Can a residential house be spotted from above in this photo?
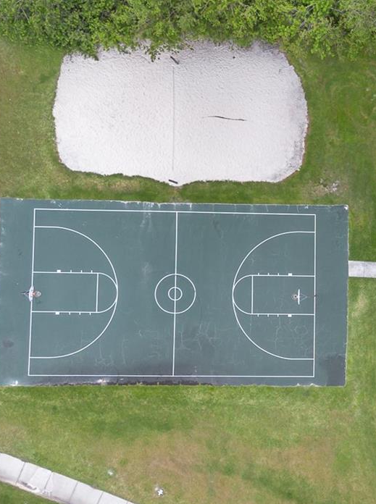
No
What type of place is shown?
sports ground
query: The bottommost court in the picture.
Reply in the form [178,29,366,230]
[0,197,349,387]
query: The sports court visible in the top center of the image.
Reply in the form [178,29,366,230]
[52,35,309,187]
